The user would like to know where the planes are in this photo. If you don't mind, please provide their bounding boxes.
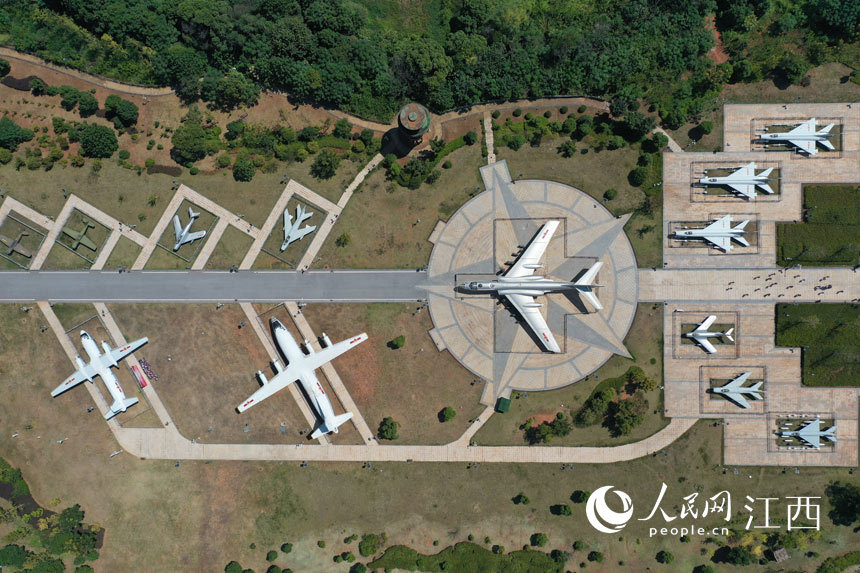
[456,222,603,351]
[712,373,766,408]
[50,331,149,418]
[698,163,777,198]
[674,215,751,251]
[281,202,315,253]
[235,318,367,440]
[0,225,33,257]
[61,218,97,251]
[757,119,838,155]
[685,316,732,354]
[174,209,205,250]
[780,420,839,448]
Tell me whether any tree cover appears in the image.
Yes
